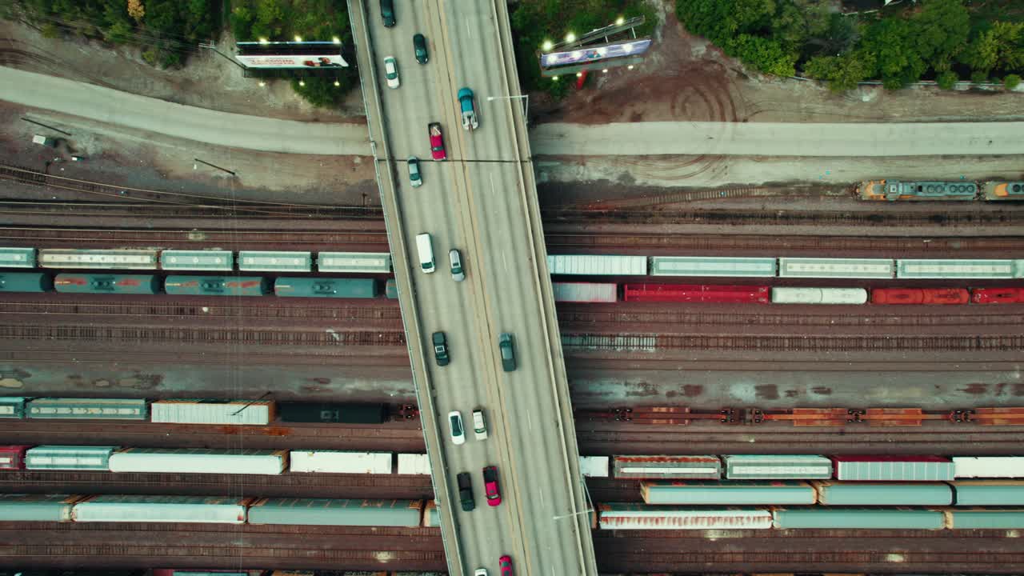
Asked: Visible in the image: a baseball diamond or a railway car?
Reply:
railway car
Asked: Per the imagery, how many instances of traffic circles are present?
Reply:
0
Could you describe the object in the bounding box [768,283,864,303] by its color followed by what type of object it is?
white rail car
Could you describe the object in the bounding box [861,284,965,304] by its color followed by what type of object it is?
red rail car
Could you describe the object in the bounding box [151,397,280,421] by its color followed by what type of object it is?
white rail car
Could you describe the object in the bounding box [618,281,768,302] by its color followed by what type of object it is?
red rail car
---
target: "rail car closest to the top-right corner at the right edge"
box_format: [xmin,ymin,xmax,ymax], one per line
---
[972,179,1024,199]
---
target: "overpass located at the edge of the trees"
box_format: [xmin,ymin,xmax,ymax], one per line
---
[346,0,599,576]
